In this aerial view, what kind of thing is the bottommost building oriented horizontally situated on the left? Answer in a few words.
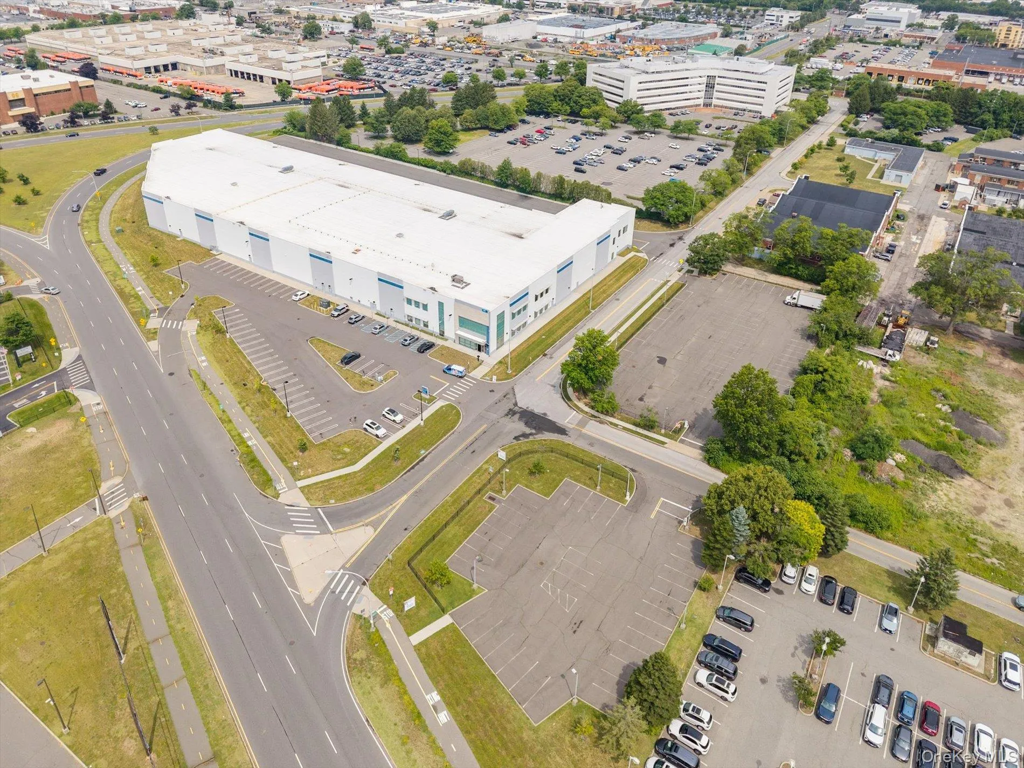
warehouse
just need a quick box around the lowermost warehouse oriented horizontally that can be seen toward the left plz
[142,129,636,355]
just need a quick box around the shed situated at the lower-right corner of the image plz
[936,614,984,672]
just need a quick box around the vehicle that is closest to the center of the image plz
[439,363,470,378]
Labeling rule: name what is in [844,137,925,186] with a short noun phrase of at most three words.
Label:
building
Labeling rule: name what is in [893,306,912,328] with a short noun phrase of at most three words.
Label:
work vehicle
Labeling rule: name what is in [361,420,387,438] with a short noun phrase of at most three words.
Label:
car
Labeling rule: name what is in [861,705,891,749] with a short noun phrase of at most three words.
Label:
car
